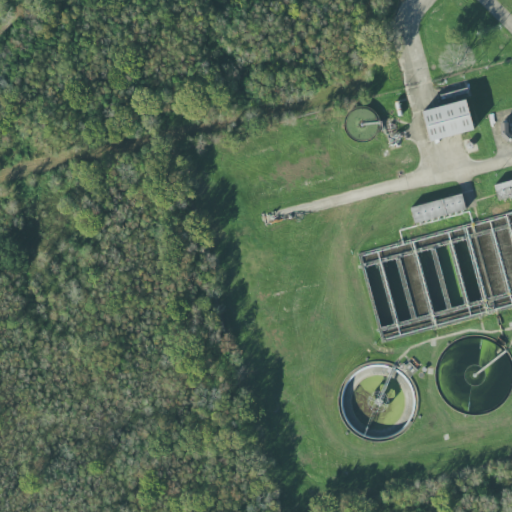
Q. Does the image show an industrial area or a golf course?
industrial area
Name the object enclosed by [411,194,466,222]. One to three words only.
building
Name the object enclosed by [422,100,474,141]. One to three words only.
building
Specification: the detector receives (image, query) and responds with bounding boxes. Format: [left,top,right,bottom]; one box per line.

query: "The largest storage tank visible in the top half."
[346,107,383,141]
